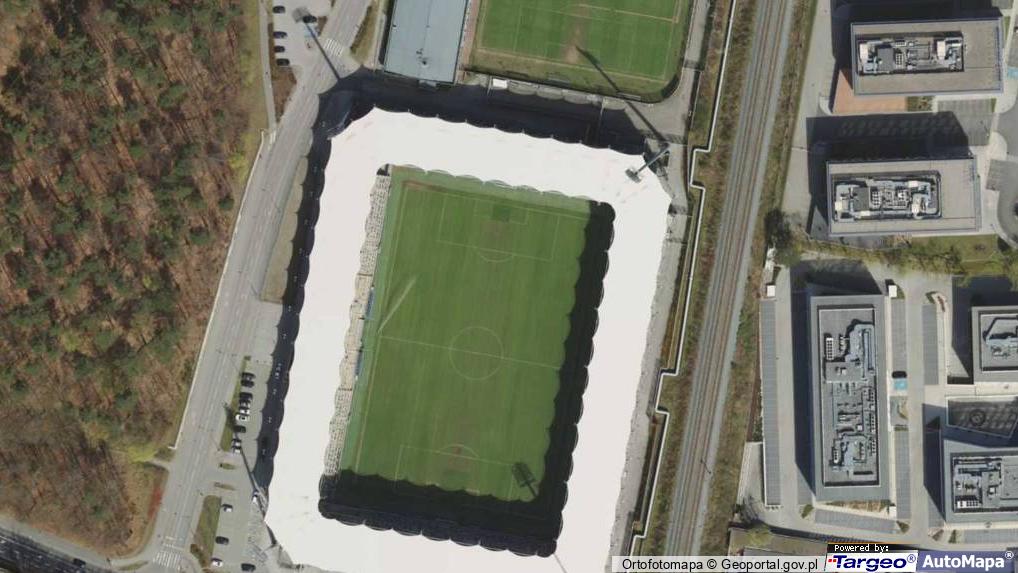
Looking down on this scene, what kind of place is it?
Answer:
sports ground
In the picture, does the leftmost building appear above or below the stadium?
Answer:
above it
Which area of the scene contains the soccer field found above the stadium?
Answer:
top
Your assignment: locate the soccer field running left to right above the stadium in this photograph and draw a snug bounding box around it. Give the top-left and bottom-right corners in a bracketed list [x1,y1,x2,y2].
[471,0,698,96]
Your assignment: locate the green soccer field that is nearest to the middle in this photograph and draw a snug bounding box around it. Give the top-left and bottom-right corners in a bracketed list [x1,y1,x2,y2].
[333,164,617,541]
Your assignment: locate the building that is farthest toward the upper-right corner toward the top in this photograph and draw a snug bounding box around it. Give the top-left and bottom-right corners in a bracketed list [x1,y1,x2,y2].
[851,17,1003,96]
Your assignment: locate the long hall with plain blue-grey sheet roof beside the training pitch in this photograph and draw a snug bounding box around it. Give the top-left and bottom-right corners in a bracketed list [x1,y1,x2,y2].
[385,0,471,88]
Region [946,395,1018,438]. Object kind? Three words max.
building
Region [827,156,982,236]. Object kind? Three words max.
building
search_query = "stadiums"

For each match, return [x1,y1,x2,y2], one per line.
[259,103,673,573]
